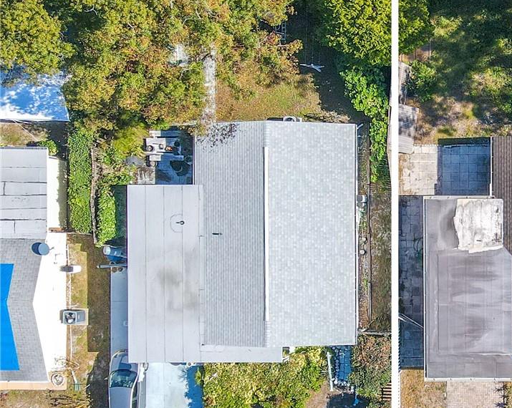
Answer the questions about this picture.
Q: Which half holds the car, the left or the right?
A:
left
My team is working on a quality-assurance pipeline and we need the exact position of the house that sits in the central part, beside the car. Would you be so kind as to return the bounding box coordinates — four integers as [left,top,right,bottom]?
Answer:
[99,121,362,362]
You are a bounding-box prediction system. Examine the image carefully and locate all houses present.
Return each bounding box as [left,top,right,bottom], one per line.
[423,136,512,382]
[99,121,362,362]
[0,146,67,382]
